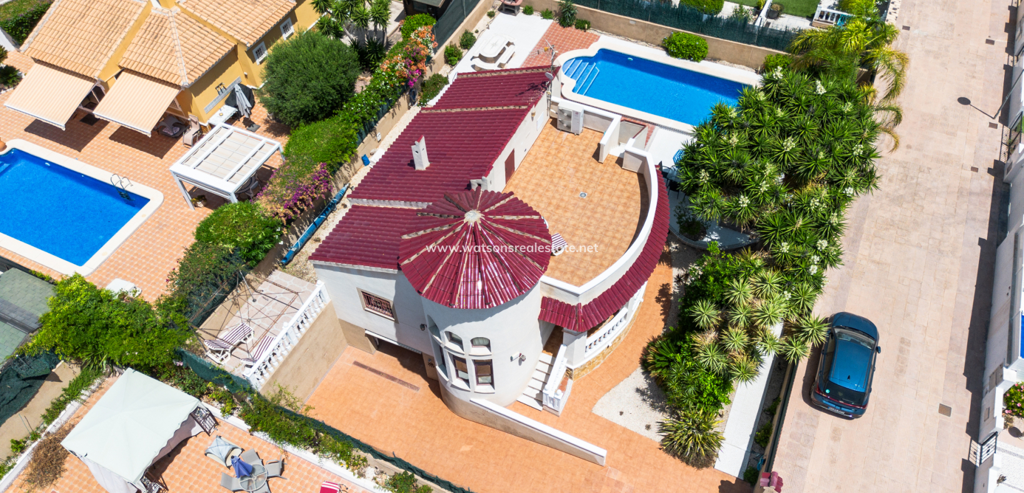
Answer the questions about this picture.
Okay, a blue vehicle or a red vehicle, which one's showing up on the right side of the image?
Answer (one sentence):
You can see a blue vehicle on the right side of the image.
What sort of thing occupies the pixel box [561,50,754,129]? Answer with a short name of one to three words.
swimming pool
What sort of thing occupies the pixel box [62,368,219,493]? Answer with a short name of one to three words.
gazebo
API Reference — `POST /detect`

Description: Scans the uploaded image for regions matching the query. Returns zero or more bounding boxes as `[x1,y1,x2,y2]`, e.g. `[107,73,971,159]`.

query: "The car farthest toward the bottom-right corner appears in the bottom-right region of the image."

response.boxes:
[810,314,885,425]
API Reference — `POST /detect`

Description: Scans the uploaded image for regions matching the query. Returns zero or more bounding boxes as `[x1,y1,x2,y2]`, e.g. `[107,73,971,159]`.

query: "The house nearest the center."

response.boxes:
[302,51,670,420]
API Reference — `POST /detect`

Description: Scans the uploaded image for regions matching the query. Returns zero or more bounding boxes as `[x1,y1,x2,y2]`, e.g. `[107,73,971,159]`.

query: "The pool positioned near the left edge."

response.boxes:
[0,150,147,266]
